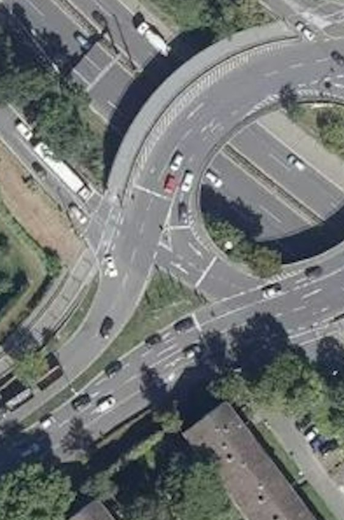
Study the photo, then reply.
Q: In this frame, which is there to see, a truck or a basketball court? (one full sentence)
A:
Visible in the photo is a truck.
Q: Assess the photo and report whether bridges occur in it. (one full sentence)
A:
Yes, this view includes a bridge.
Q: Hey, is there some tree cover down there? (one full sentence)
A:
Yes, tree cover can be seen from above here.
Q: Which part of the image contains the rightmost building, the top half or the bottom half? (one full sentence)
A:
It is in the bottom half that the rightmost building appears.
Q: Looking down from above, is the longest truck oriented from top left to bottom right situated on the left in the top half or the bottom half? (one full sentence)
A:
You can find the longest truck oriented from top left to bottom right situated on the left in the top half.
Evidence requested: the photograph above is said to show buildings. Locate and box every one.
[183,403,315,520]
[66,501,111,520]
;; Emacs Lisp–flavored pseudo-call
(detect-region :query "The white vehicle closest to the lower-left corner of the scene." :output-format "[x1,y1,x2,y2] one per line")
[37,415,57,432]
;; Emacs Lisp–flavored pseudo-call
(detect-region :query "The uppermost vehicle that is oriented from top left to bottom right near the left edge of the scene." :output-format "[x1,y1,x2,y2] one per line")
[13,122,33,143]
